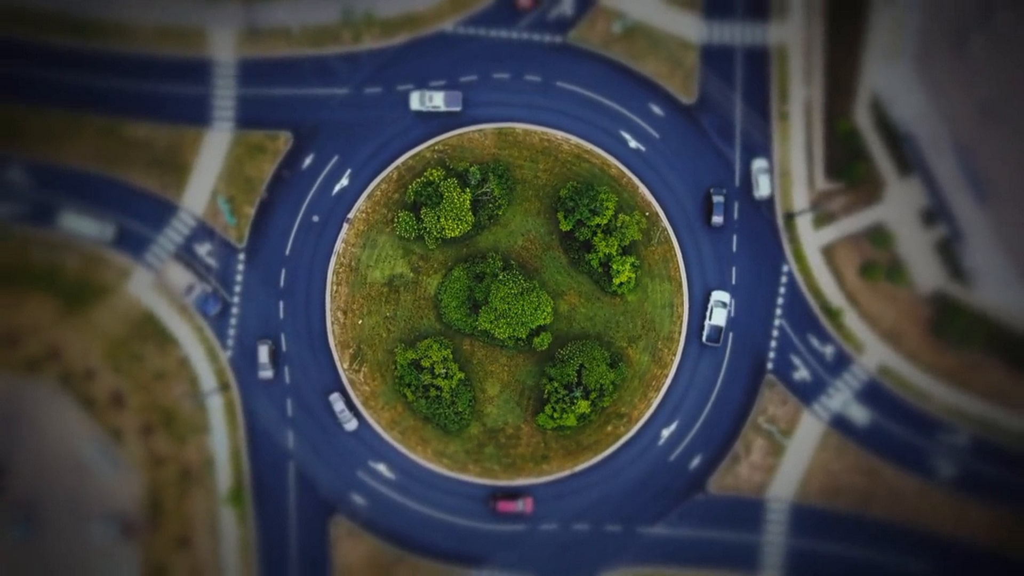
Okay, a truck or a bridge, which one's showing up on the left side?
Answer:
truck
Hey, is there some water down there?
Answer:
No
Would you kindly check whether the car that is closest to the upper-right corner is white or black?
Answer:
white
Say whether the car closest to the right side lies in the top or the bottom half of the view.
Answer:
bottom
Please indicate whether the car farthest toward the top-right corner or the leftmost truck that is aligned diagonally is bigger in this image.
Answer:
the truck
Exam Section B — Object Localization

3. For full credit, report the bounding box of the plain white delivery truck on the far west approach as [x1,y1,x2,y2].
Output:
[53,209,130,244]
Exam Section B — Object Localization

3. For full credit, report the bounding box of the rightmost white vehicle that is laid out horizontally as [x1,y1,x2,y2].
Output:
[409,88,464,114]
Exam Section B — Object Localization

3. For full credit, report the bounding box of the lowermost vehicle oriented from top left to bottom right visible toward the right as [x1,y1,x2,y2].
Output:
[827,391,872,428]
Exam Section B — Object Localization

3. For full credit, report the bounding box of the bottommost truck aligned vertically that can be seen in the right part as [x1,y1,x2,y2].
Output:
[701,290,731,348]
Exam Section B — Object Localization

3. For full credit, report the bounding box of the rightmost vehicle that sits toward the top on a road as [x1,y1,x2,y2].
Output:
[748,157,773,202]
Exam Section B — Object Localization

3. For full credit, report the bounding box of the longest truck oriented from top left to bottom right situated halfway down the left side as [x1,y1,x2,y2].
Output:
[153,255,232,319]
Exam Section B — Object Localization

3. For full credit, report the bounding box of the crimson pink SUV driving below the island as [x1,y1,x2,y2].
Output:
[491,493,534,516]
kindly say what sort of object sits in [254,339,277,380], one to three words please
car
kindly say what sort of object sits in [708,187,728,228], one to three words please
car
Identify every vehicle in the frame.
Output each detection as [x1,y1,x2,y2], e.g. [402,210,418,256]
[327,390,360,433]
[708,187,728,228]
[409,88,464,114]
[491,493,534,516]
[701,290,731,348]
[748,157,773,202]
[827,391,872,428]
[153,255,232,319]
[254,339,277,380]
[53,209,130,244]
